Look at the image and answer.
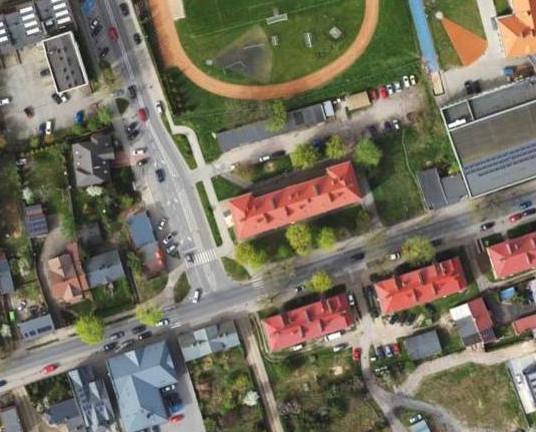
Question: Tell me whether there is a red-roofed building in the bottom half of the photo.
Yes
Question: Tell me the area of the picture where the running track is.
top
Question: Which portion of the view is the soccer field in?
top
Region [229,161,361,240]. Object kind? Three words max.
building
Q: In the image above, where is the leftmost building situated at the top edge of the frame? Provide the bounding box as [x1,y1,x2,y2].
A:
[0,2,47,56]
